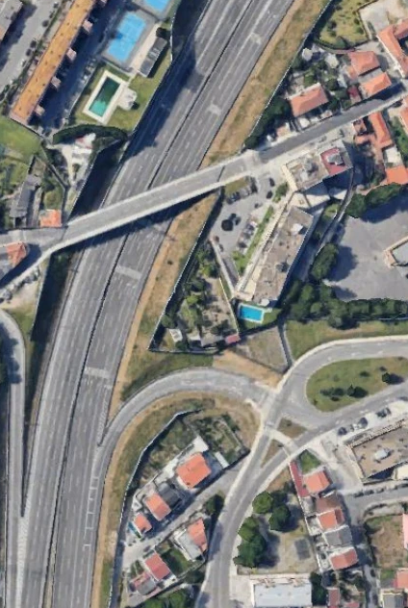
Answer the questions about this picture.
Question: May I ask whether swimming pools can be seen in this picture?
Yes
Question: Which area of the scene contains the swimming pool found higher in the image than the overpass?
top left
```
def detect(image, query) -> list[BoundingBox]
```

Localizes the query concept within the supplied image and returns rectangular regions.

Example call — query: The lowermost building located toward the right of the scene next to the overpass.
[250,206,313,305]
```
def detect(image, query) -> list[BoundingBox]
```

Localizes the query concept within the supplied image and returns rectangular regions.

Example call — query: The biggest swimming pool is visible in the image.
[80,67,130,121]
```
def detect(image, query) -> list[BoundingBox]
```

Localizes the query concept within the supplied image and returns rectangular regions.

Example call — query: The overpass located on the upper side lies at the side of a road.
[55,151,266,247]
